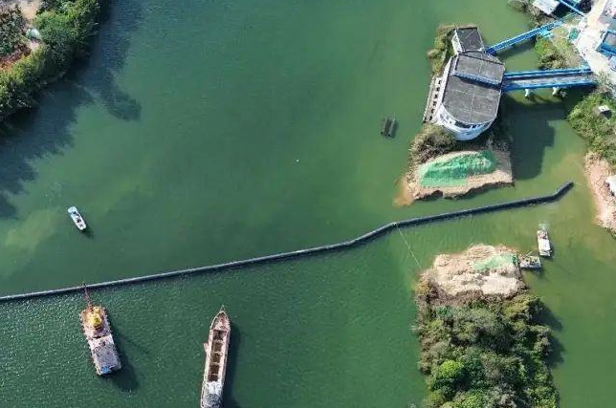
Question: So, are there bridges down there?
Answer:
Yes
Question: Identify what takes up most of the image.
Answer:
water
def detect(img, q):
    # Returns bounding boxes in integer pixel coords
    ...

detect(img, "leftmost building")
[420,27,506,141]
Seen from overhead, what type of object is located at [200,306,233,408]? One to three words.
ship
